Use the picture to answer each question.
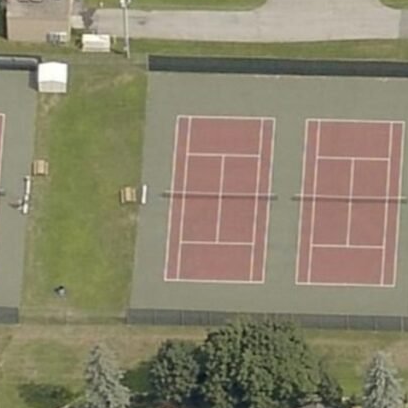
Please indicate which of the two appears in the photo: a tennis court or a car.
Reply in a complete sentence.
This aerial view contains a tennis court.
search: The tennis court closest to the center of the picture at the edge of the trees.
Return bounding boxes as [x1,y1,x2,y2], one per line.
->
[165,116,275,283]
